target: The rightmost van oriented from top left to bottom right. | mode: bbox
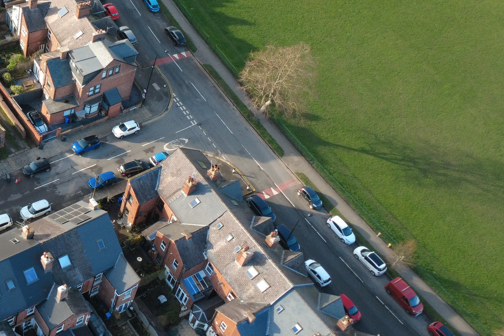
[382,274,424,318]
